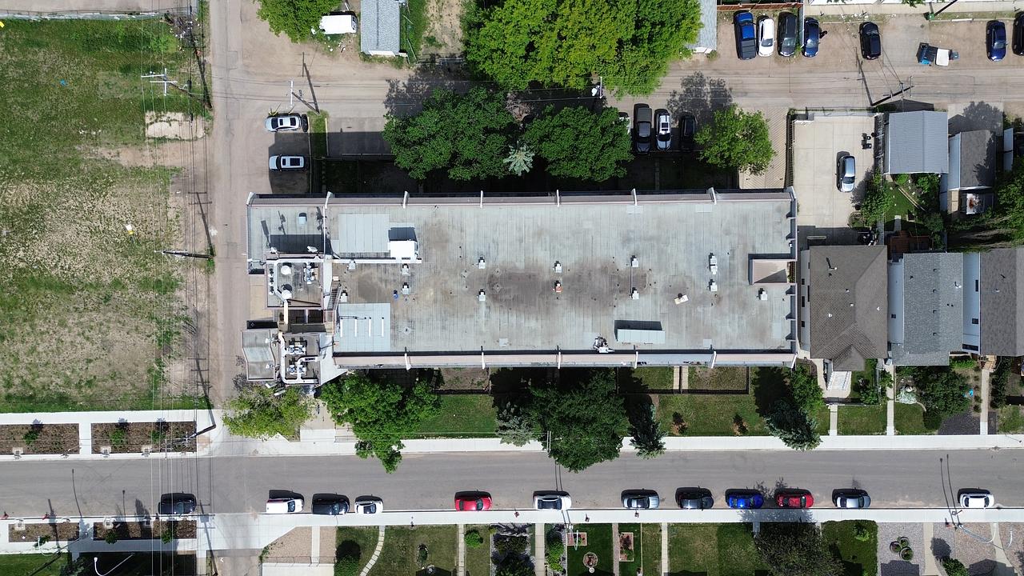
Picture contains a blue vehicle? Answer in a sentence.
Yes, there's a blue vehicle here.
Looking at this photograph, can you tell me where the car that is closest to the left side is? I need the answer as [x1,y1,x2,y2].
[156,496,194,515]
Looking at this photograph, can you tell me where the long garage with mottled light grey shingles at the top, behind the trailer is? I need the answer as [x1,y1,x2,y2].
[359,0,402,59]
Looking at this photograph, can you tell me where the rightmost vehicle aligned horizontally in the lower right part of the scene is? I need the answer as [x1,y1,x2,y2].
[960,494,996,512]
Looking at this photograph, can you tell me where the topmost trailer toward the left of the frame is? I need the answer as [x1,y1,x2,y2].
[320,14,359,39]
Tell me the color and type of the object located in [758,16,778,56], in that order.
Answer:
white car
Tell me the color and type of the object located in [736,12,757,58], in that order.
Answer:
blue truck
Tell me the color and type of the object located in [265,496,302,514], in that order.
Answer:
white car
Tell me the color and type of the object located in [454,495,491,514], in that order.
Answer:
red car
